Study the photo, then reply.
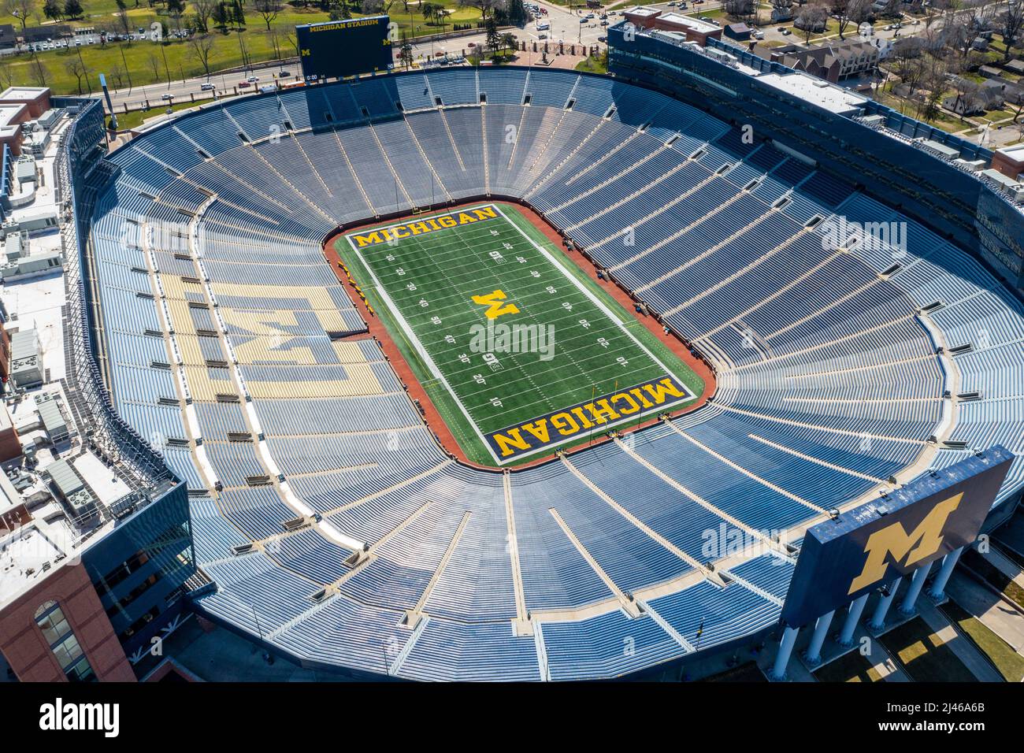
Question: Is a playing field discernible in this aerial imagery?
Yes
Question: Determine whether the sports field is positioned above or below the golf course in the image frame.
below it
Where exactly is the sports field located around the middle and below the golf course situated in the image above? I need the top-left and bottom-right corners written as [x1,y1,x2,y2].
[358,217,668,434]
